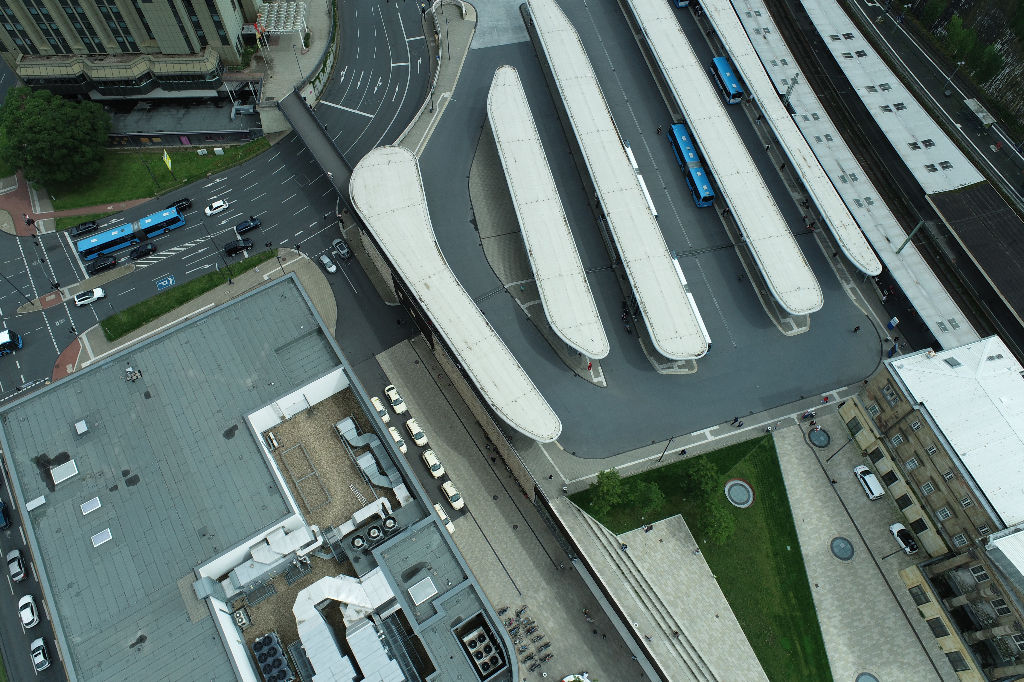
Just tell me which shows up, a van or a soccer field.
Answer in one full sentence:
There is a van in the scene.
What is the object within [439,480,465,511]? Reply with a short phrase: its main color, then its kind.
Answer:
white car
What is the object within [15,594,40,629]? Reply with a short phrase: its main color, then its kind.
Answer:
white car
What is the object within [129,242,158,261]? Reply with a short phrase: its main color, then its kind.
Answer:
black car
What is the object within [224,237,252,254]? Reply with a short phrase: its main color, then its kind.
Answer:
black car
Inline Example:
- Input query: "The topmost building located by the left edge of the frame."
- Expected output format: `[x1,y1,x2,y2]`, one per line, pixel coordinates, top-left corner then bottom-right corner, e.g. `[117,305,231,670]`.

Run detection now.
[0,0,272,108]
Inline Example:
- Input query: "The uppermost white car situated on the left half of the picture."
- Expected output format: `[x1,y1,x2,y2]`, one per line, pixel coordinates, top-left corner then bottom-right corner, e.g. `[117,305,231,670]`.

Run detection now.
[204,200,229,216]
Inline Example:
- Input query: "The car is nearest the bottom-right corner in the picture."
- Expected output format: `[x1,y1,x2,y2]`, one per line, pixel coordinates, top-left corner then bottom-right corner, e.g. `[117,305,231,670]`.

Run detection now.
[890,521,919,553]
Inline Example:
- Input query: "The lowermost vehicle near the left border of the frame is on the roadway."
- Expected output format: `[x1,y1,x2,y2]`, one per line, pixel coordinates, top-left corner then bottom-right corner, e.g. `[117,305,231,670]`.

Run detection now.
[27,637,52,672]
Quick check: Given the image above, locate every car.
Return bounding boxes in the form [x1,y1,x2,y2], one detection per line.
[204,200,229,216]
[384,386,407,414]
[166,196,193,209]
[129,242,158,261]
[333,238,351,258]
[404,418,428,447]
[434,500,455,531]
[0,498,11,528]
[87,255,116,275]
[890,521,919,553]
[420,448,445,478]
[73,287,105,306]
[15,594,40,629]
[439,480,465,511]
[224,237,252,254]
[70,218,98,236]
[390,426,408,454]
[372,397,390,423]
[317,253,335,272]
[234,218,260,234]
[27,637,52,672]
[4,548,28,580]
